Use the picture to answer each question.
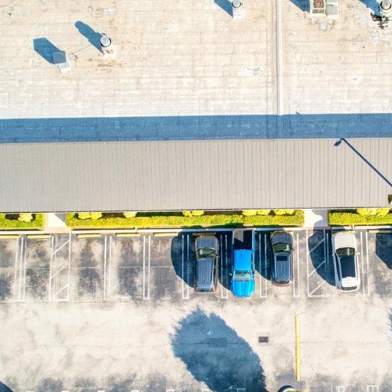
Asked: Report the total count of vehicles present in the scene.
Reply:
3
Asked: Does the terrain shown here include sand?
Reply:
No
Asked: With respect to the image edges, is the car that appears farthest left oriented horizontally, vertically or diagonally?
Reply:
vertically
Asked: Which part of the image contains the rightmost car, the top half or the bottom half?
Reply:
bottom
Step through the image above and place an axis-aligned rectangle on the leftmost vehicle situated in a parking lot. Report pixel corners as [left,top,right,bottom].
[192,233,220,296]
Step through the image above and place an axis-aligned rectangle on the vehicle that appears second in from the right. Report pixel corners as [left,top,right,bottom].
[228,228,257,299]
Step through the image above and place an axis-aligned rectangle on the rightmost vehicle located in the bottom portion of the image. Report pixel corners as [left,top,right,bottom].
[267,230,296,289]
